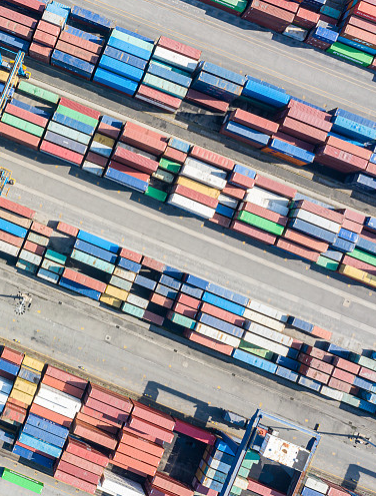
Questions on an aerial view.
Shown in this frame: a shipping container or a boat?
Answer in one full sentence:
The image shows a shipping container.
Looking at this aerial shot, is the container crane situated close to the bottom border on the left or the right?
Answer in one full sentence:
The container crane situated close to the bottom border appears in the right half of the scene.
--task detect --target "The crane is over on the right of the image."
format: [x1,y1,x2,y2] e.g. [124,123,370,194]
[209,409,322,496]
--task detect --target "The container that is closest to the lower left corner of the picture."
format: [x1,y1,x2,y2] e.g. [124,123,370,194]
[2,467,44,494]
